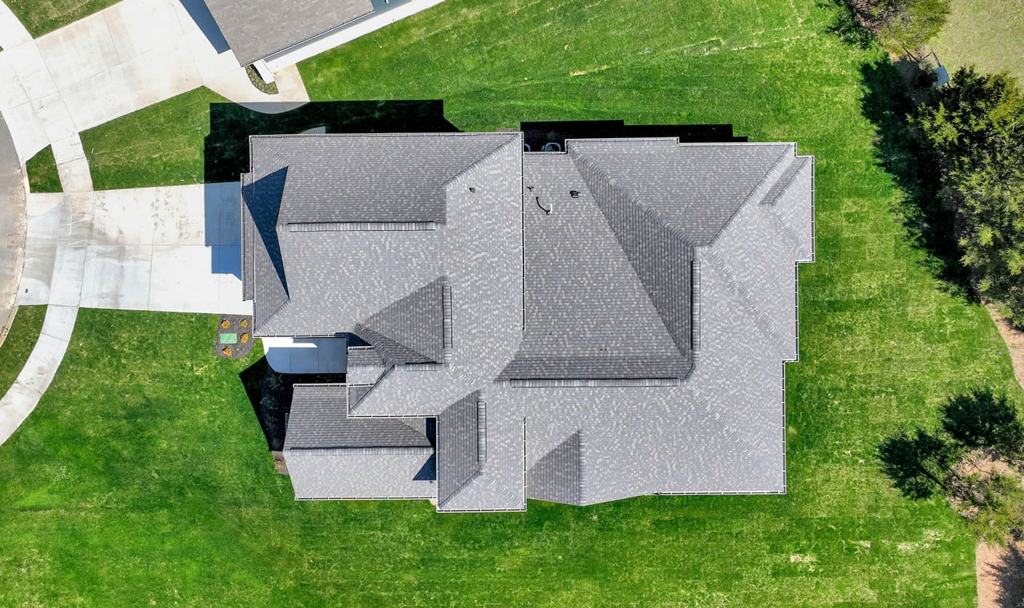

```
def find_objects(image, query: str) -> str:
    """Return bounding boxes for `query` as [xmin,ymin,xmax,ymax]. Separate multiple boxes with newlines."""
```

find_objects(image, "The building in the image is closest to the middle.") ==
[241,132,815,511]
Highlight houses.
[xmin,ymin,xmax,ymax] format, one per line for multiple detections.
[207,0,420,66]
[241,132,815,511]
